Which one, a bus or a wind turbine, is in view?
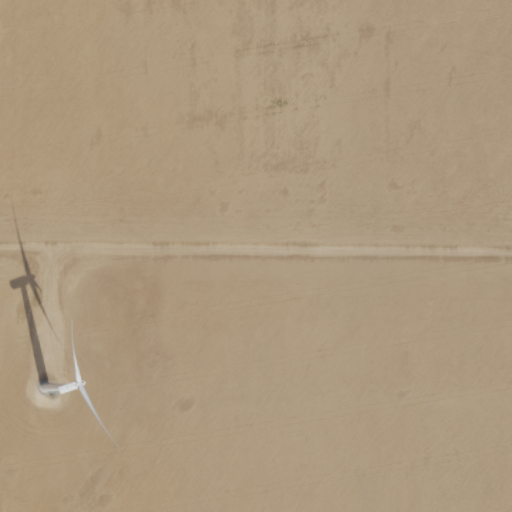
wind turbine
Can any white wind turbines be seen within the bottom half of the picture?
Yes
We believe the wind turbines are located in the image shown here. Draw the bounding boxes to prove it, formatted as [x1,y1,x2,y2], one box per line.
[40,316,116,439]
